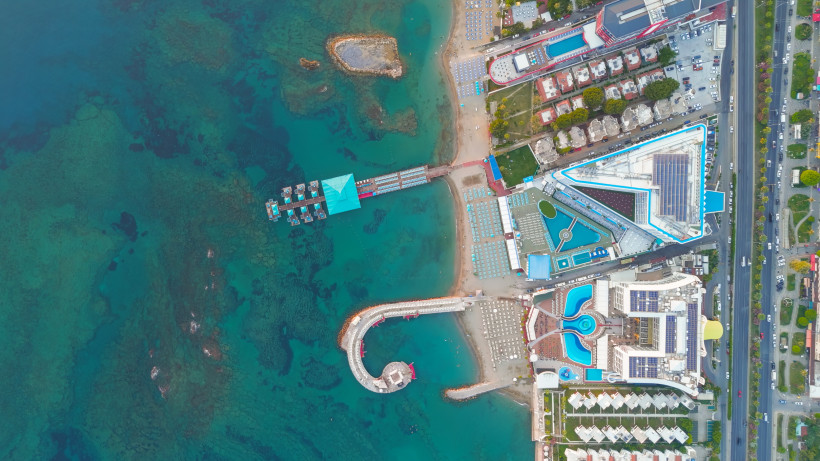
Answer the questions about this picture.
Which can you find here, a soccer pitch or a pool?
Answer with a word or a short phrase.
pool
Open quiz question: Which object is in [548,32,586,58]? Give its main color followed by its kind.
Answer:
blue swimming pool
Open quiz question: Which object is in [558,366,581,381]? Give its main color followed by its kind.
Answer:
blue swimming pool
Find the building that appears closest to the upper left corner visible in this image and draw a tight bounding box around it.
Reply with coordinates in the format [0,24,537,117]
[322,174,361,215]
